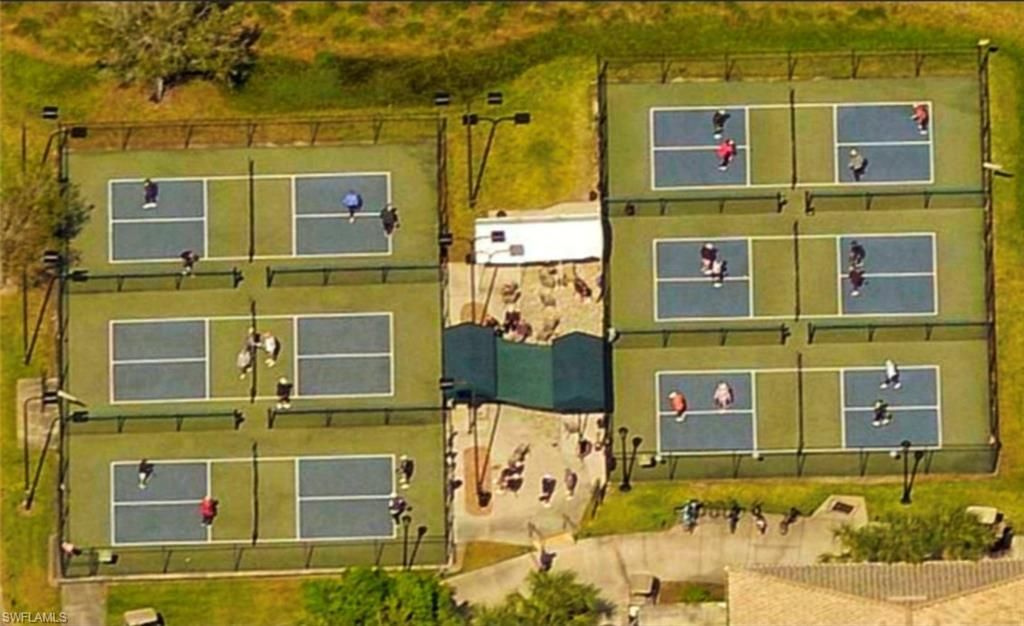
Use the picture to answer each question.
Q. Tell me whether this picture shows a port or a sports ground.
sports ground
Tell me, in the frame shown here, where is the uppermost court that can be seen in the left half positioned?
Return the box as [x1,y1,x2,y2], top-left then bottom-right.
[63,142,444,291]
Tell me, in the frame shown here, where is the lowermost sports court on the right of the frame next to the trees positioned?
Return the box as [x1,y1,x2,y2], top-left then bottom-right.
[607,339,995,481]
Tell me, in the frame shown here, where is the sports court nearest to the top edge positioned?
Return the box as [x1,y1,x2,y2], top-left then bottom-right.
[603,76,985,215]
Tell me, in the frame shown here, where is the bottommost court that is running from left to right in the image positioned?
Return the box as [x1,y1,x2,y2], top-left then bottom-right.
[60,423,447,578]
